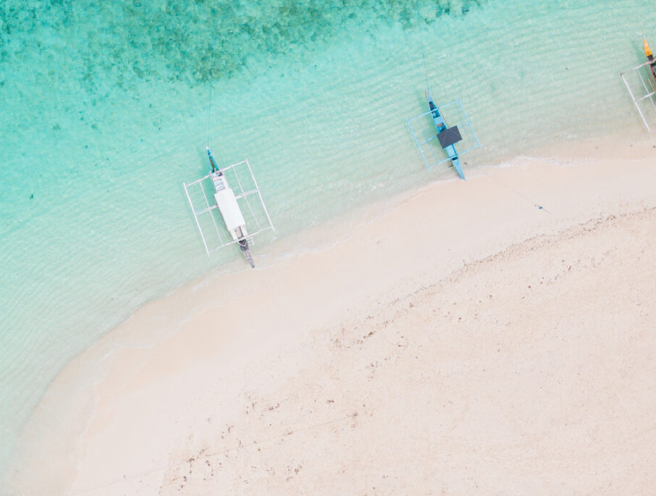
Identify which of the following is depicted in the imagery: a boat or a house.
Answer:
boat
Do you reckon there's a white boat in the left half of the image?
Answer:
Yes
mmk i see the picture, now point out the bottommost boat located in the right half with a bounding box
[407,86,481,182]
